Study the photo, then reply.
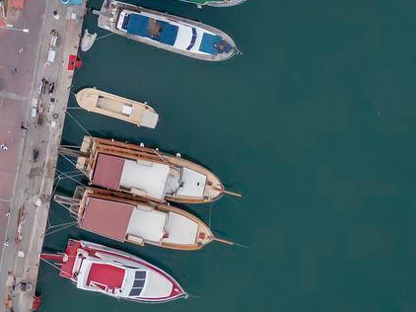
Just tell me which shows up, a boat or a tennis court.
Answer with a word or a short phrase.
boat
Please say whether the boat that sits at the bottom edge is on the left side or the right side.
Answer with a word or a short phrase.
left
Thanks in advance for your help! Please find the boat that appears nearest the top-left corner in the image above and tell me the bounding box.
[80,29,97,51]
